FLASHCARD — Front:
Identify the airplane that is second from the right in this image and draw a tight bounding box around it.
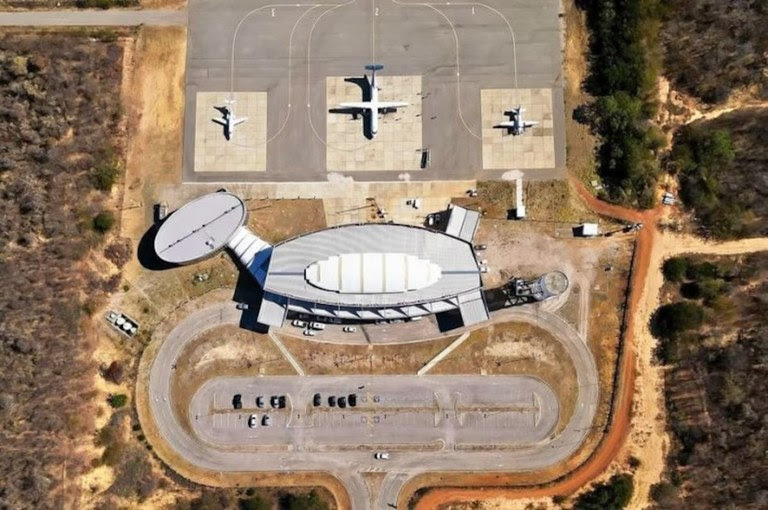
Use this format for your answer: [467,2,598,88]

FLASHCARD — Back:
[339,67,410,139]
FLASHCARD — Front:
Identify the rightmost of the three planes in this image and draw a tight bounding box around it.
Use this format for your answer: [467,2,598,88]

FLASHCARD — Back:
[501,103,540,134]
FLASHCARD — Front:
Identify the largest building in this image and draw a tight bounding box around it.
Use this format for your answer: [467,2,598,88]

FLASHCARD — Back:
[225,206,490,327]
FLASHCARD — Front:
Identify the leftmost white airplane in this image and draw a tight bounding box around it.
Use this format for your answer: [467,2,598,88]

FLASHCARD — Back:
[212,100,248,139]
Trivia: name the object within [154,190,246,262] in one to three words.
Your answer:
building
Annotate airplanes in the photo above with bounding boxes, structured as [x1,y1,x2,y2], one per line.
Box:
[339,67,410,139]
[212,100,248,139]
[501,103,540,134]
